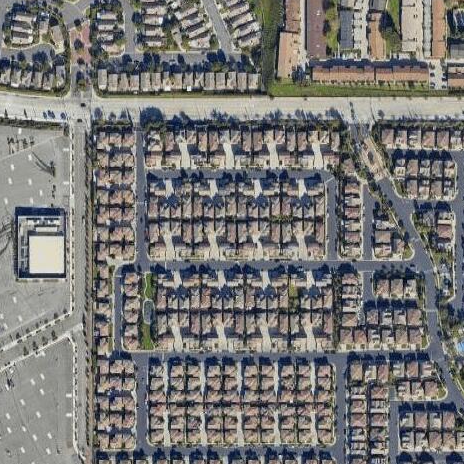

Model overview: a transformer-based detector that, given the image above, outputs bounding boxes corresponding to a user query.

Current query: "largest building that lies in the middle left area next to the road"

[16,216,66,281]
